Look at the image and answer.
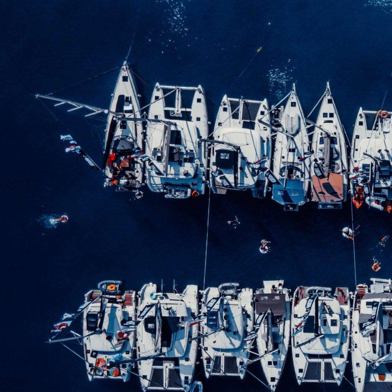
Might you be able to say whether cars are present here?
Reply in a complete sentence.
No, the frame has no car in it.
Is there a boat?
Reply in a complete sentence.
Yes, the picture does show a boat.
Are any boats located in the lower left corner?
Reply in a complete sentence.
Yes, looking in the lower left corner, one can make out a boat.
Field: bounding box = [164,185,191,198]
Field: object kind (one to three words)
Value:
boat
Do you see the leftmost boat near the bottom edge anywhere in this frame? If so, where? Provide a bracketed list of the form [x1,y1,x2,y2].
[48,291,140,382]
